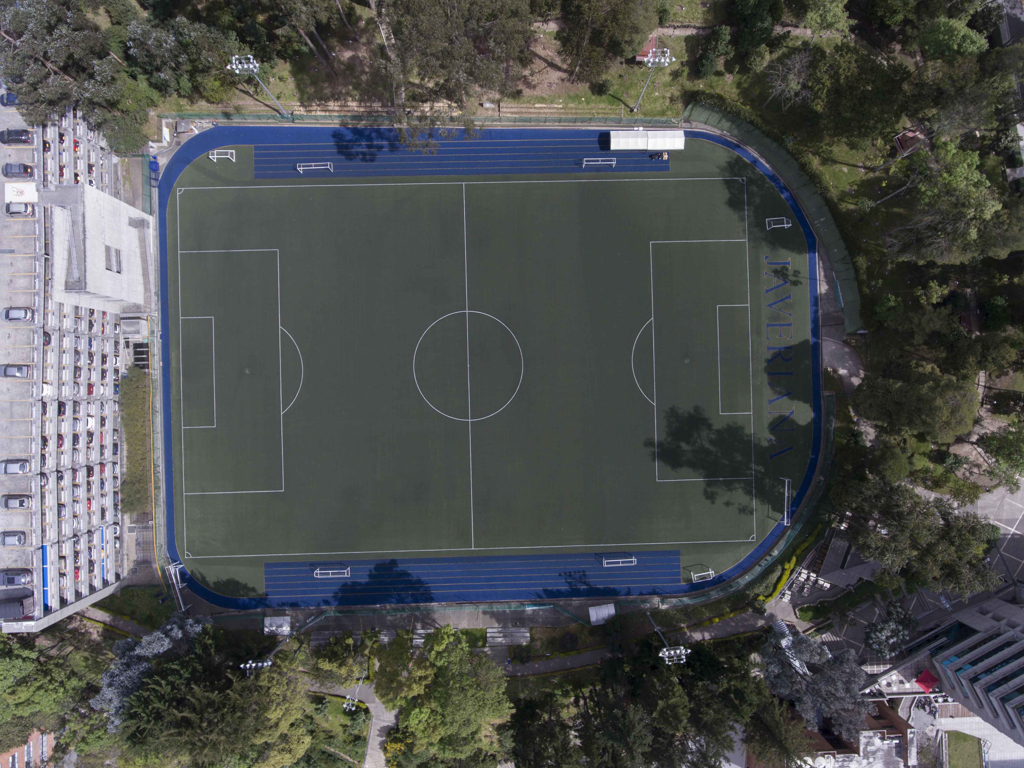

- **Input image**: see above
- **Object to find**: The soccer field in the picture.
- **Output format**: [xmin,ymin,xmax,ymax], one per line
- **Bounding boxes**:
[167,138,813,598]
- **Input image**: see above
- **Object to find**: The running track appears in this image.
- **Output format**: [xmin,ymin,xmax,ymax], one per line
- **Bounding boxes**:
[158,126,822,609]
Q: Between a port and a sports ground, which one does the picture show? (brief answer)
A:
sports ground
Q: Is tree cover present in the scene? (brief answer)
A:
Yes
